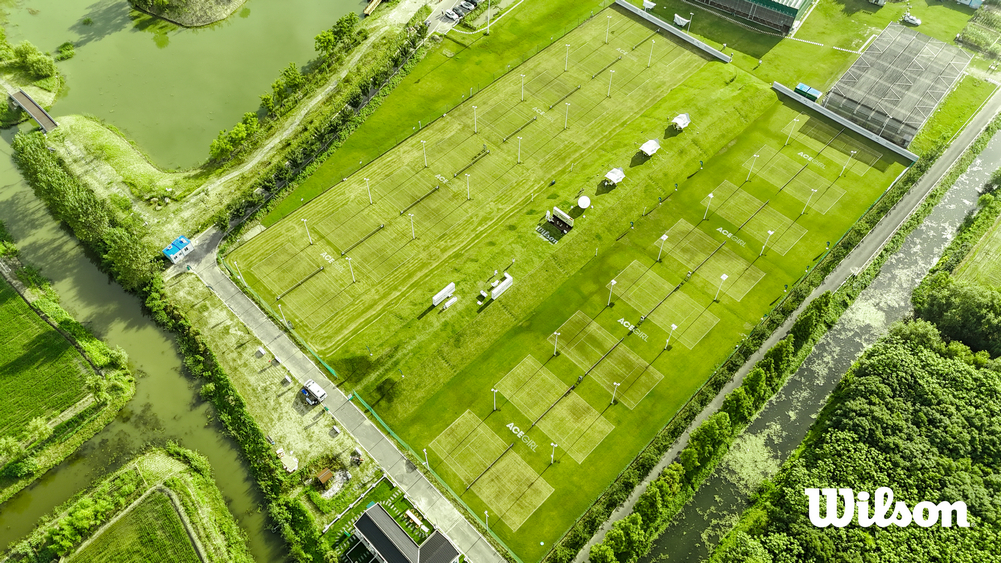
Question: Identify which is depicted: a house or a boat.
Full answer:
There is a house in the scene.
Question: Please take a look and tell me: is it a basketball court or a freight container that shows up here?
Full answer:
The image shows a freight container.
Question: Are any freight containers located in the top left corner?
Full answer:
No, I see no freight container in the top left corner.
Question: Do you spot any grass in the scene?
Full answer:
Yes, the picture does contain grass.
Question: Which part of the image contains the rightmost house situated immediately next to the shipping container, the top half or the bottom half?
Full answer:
The rightmost house situated immediately next to the shipping container sits in the top half of the picture.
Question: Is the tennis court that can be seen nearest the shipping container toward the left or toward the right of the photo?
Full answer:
The tennis court that can be seen nearest the shipping container is on the right side of the image.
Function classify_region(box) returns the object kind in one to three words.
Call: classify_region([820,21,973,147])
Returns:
house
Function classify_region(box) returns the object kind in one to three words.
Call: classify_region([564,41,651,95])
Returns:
tennis court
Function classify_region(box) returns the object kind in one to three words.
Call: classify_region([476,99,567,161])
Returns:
tennis court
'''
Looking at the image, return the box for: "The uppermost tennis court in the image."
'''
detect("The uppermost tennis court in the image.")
[605,15,689,64]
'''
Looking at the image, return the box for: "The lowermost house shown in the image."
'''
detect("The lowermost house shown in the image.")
[354,502,460,563]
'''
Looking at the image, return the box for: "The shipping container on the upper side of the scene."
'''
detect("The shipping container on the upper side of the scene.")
[791,79,825,105]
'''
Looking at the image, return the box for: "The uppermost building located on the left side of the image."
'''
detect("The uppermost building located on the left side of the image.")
[162,235,196,264]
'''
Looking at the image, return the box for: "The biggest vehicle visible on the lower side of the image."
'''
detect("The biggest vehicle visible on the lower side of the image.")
[302,378,327,405]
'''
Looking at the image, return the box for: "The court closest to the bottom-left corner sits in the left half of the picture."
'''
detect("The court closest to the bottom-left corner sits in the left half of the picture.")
[251,241,351,328]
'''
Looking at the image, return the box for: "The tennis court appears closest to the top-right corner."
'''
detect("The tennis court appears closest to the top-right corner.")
[782,111,883,176]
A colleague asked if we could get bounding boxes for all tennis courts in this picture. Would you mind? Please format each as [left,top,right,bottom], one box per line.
[494,355,616,464]
[476,99,567,161]
[564,41,651,95]
[251,241,351,328]
[373,165,468,238]
[782,111,883,176]
[605,15,689,64]
[742,145,847,215]
[426,131,519,198]
[314,202,413,282]
[523,69,610,126]
[606,260,720,350]
[546,310,665,410]
[701,180,807,256]
[428,410,554,531]
[655,219,765,301]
